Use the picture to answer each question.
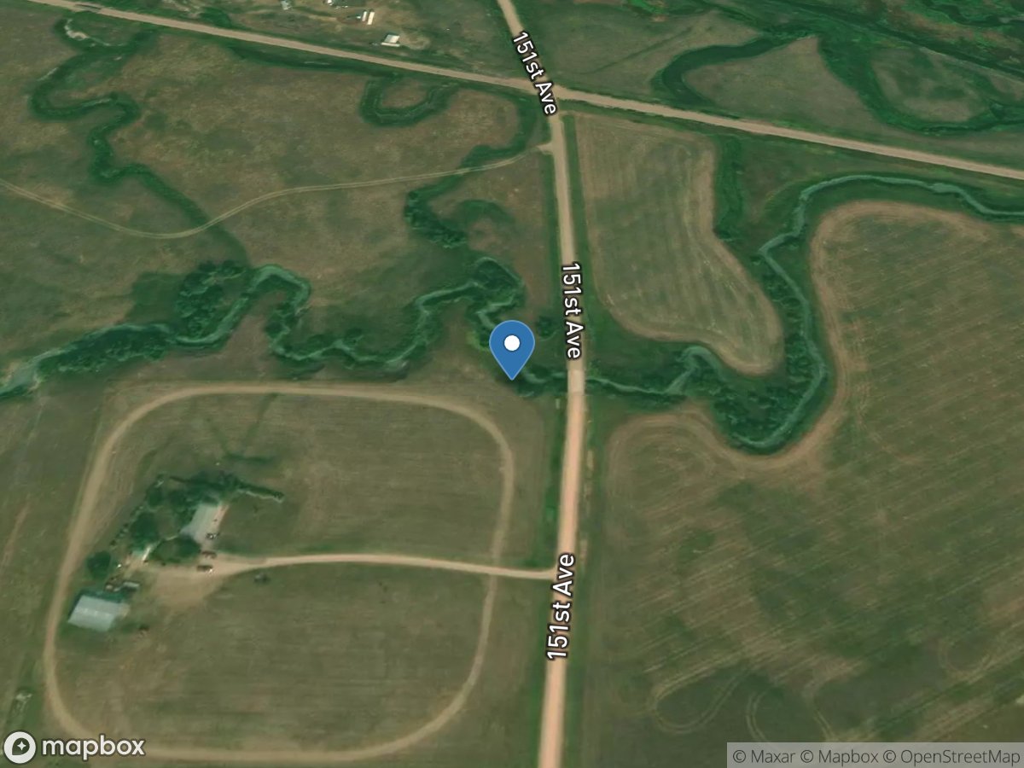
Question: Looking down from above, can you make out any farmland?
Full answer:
Yes, farmland shows up in the scene.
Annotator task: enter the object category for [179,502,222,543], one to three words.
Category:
house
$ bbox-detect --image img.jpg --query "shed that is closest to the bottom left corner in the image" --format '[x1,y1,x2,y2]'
[67,592,122,632]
